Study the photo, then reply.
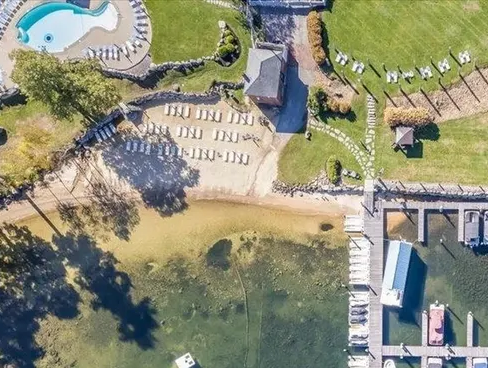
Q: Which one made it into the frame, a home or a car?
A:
home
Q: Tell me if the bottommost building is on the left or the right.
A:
right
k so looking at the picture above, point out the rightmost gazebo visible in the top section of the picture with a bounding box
[395,127,414,148]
